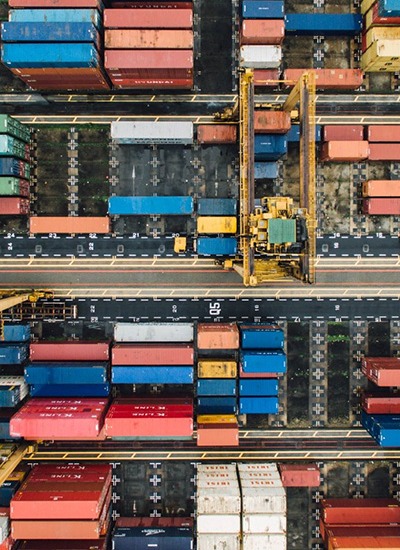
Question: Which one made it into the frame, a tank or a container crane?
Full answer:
There is a container crane in the scene.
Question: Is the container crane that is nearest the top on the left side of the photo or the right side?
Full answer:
The container crane that is nearest the top appears in the right half of the scene.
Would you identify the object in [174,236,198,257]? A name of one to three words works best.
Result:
vehicle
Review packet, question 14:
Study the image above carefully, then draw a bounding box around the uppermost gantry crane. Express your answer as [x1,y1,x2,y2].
[212,70,318,285]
